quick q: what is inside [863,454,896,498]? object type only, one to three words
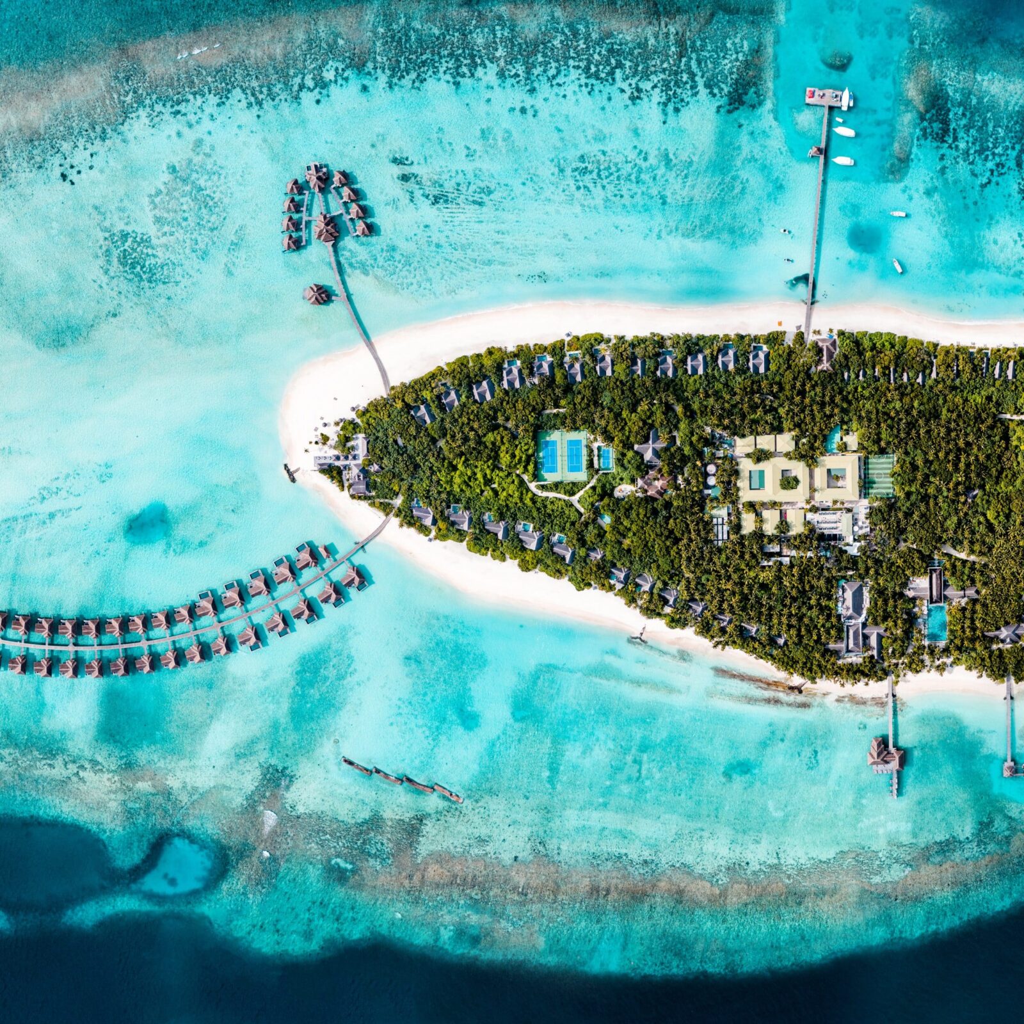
soccer field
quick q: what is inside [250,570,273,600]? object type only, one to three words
house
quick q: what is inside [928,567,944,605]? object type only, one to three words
building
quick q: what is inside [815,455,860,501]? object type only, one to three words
building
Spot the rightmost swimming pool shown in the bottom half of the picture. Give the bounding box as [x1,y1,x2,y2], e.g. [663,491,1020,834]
[928,606,948,641]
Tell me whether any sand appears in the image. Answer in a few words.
Yes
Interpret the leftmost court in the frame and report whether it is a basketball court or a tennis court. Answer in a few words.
tennis court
